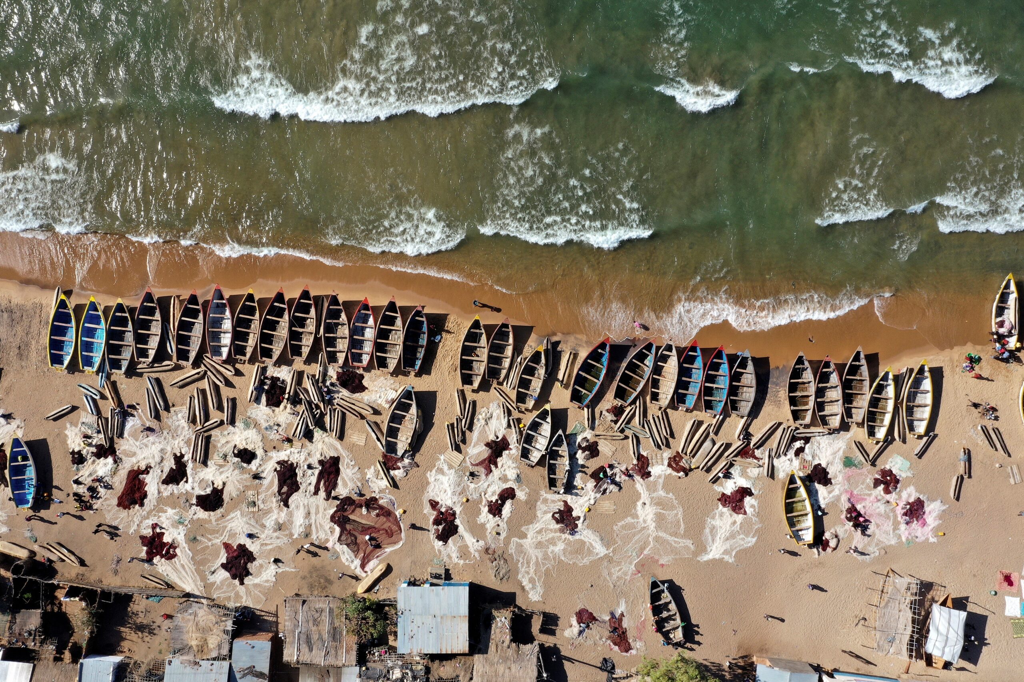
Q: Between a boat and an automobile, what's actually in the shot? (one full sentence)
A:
This aerial view contains a boat.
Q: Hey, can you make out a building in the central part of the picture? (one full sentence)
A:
No, I see no building in the central part of the picture.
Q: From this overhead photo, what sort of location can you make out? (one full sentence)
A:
It's a beach.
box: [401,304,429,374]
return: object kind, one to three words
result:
boat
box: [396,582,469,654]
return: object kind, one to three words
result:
house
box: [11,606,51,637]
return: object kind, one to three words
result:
shed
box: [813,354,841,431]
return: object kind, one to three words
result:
boat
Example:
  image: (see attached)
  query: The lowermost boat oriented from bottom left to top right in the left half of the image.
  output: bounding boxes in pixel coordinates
[359,563,389,594]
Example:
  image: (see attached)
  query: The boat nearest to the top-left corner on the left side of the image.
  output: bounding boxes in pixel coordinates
[49,286,61,320]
